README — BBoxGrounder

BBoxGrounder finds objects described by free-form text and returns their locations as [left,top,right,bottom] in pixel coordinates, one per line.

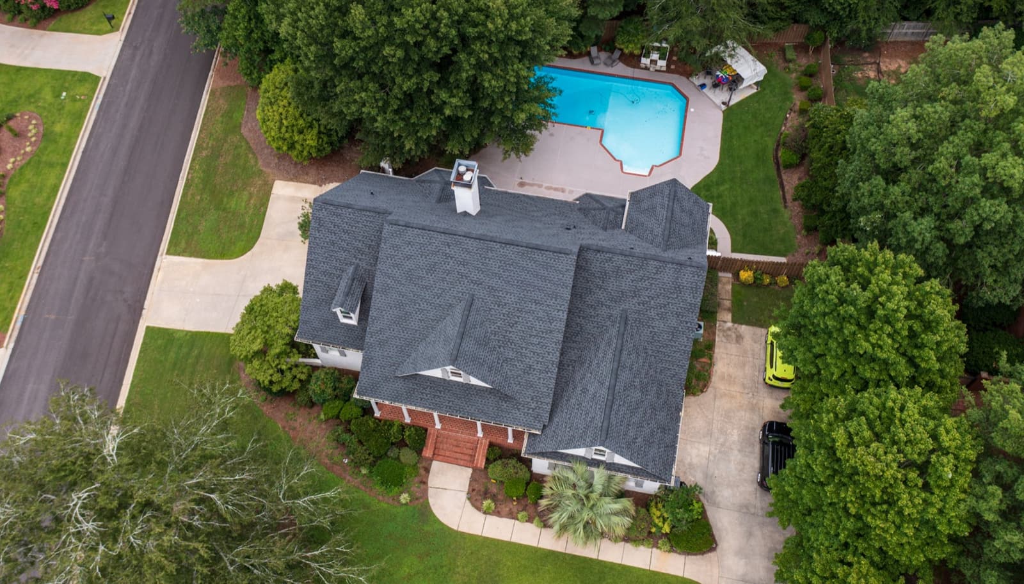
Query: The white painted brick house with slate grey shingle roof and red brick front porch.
[299,164,713,497]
